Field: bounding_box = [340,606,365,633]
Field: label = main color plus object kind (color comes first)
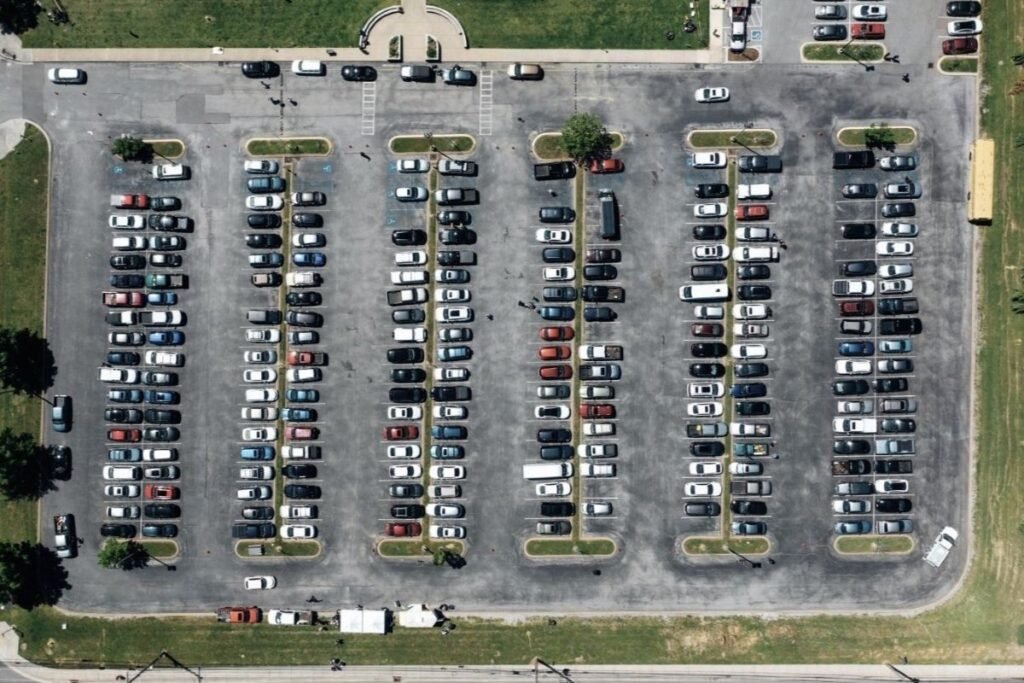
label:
white tent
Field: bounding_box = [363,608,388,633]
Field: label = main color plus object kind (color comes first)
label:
white tent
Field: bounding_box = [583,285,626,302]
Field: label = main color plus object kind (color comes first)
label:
black vehicle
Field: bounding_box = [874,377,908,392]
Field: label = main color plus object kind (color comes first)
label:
black car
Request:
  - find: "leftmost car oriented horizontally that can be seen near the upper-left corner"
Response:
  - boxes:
[47,67,84,84]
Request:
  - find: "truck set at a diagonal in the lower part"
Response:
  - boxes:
[924,525,958,567]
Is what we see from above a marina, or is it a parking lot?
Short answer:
parking lot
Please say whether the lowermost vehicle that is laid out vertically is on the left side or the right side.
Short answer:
left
